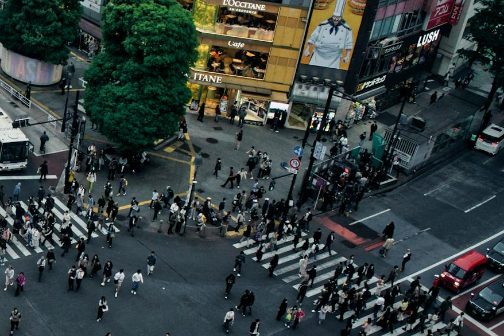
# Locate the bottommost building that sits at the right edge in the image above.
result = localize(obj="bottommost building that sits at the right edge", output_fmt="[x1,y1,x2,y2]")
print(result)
[375,84,499,165]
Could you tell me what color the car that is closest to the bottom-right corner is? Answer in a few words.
black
